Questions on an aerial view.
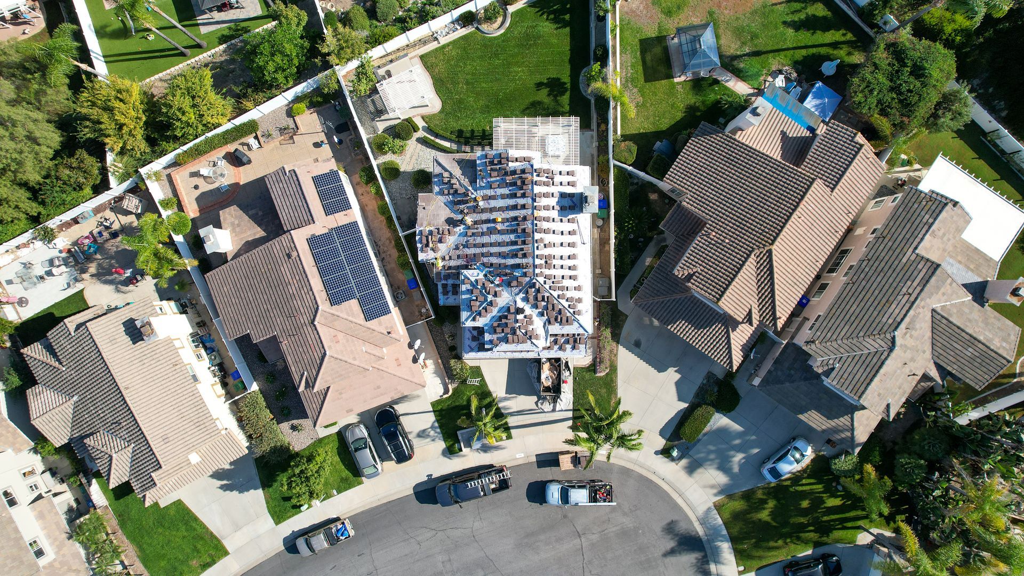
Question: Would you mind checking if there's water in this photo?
No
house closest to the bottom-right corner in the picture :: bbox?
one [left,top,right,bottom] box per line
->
[756,185,1024,456]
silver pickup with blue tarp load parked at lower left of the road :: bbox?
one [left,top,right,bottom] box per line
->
[296,514,359,555]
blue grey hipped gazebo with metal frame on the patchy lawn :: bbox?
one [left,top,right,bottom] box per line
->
[670,21,721,81]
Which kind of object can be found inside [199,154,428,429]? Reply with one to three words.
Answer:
house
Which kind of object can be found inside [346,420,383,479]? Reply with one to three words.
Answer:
car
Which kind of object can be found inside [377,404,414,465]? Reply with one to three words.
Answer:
car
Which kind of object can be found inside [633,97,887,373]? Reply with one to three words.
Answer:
house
